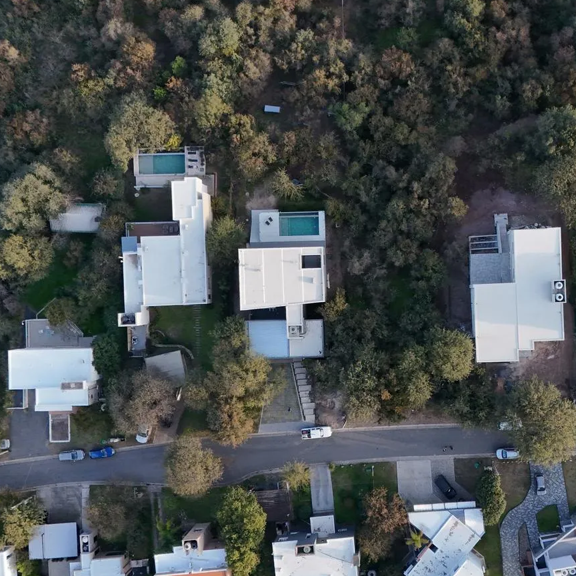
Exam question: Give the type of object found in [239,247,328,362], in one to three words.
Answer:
house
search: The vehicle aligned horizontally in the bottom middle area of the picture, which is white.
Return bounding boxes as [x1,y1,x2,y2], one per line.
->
[301,426,332,440]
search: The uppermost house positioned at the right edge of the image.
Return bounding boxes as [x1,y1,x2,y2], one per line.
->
[469,214,567,362]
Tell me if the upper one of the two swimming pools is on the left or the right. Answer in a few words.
left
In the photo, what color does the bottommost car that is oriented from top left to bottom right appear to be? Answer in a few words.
black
